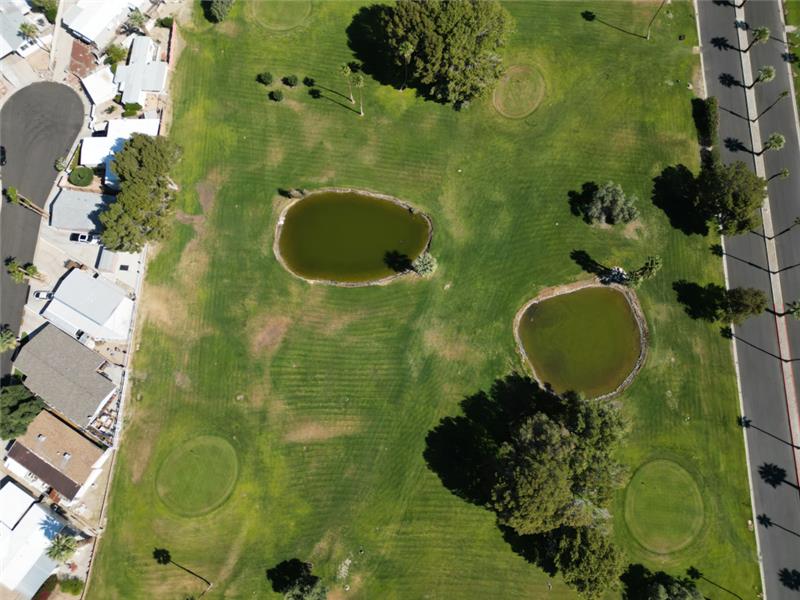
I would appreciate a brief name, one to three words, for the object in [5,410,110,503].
house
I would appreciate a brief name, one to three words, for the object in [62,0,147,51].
house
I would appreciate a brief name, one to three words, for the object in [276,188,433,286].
pond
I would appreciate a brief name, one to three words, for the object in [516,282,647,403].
pond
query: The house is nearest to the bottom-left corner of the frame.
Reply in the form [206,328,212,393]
[0,480,69,600]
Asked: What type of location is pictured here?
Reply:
golf course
